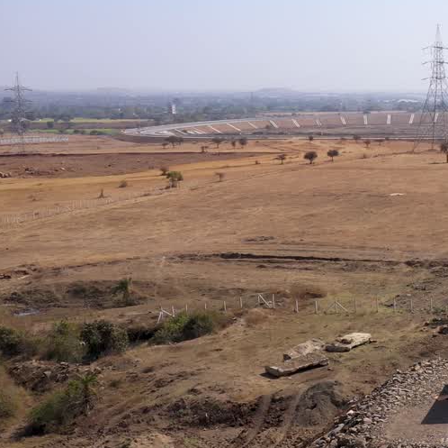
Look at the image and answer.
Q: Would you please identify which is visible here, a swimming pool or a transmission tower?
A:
transmission tower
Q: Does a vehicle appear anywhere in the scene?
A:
No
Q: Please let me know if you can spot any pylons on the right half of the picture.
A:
Yes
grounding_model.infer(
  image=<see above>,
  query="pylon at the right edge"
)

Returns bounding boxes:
[418,24,448,149]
